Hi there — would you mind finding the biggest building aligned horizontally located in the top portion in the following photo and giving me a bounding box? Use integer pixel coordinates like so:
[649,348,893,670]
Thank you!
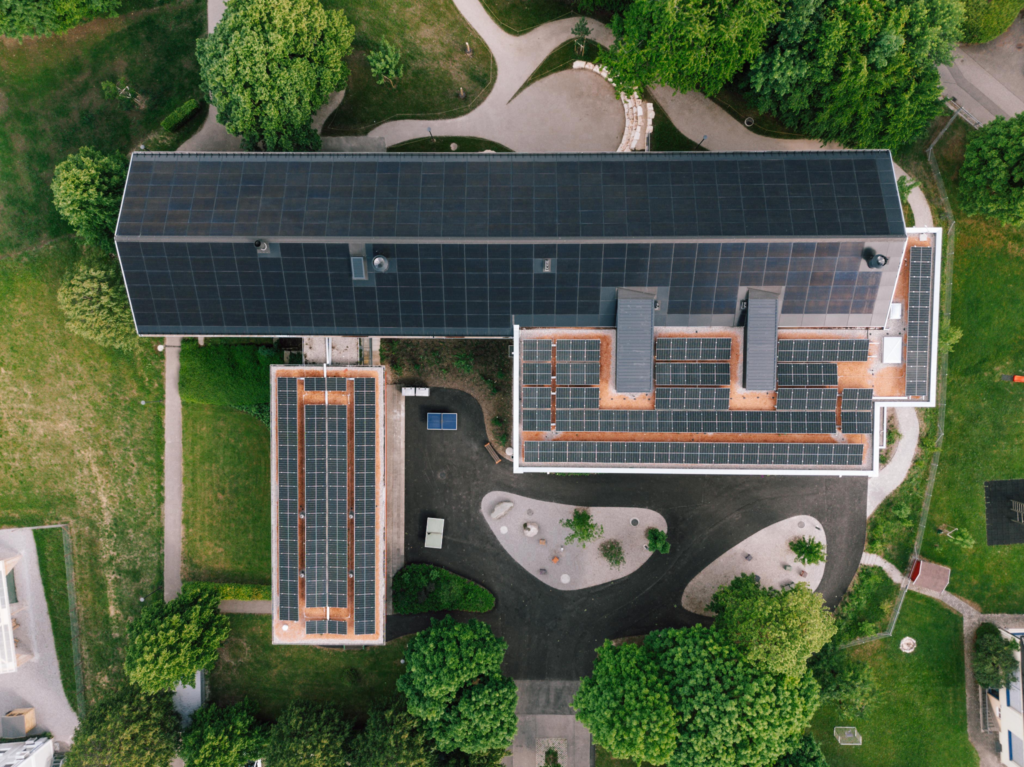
[114,151,908,393]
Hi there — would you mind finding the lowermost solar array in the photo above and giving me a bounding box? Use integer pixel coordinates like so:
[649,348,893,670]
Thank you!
[306,620,347,636]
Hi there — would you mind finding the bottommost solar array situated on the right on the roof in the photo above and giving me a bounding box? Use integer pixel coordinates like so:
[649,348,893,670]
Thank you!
[524,442,864,464]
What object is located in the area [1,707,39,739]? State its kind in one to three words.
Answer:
shed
